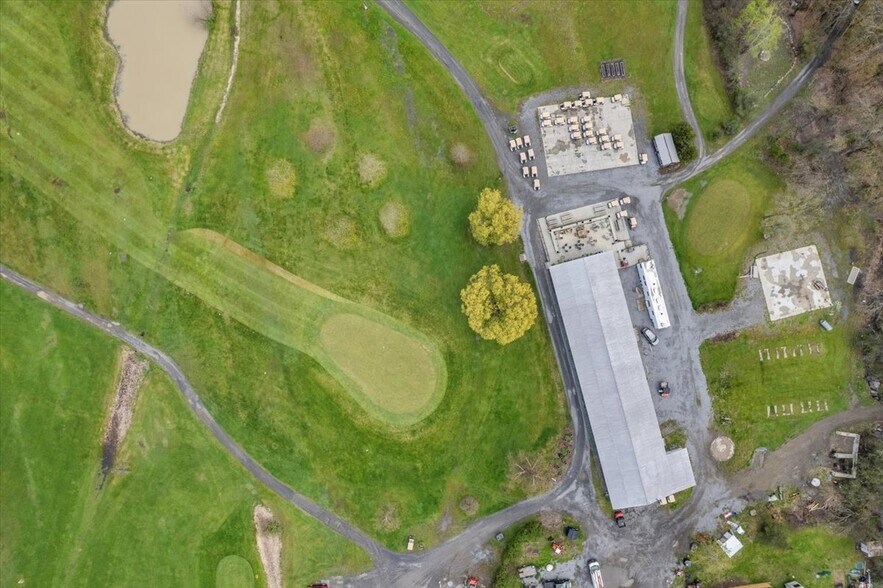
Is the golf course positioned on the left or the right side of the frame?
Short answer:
left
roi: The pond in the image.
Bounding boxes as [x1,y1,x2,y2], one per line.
[108,0,212,142]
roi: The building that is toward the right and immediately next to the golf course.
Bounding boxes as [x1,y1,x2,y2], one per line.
[548,250,696,509]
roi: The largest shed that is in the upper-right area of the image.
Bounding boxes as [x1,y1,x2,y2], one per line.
[652,133,679,167]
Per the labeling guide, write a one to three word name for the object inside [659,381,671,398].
vehicle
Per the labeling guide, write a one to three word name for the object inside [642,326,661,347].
car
